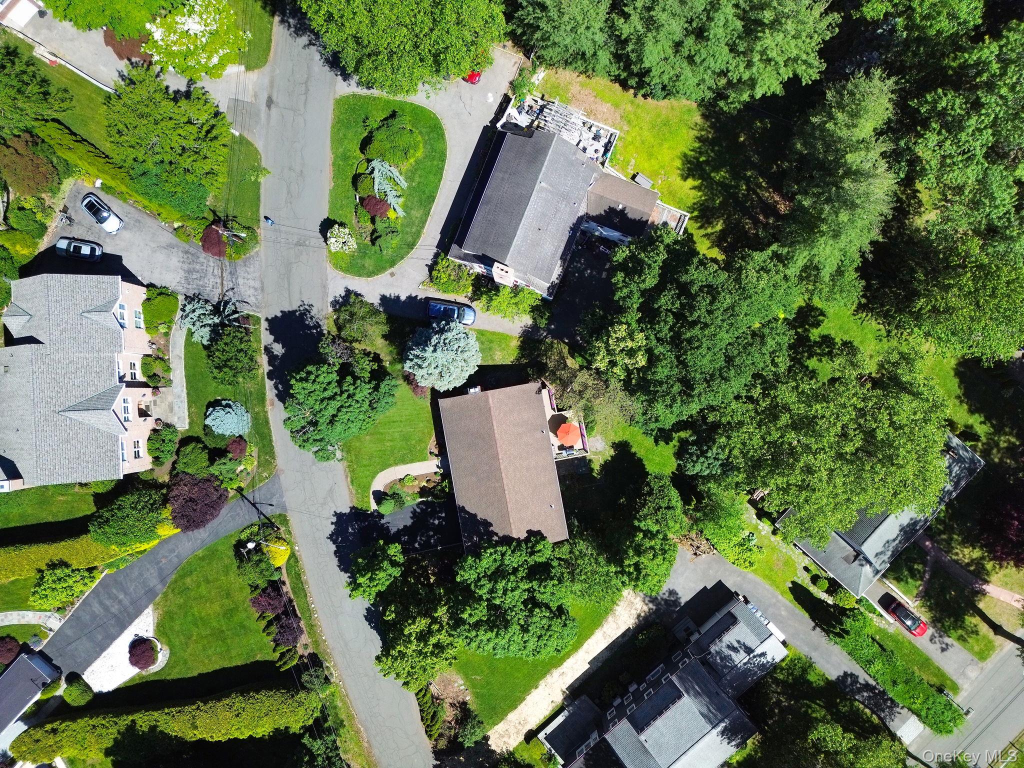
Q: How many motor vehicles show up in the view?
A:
5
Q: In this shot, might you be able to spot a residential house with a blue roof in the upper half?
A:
No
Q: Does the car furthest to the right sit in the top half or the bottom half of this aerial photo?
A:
bottom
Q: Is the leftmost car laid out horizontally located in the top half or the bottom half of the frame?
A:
top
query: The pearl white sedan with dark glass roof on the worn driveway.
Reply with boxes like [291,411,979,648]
[81,191,127,236]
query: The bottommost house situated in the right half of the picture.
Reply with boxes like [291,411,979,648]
[563,580,788,768]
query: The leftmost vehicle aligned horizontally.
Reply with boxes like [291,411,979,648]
[55,235,108,263]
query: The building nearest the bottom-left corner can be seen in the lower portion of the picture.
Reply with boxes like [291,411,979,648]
[0,649,63,736]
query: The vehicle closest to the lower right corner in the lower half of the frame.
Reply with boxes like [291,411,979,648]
[885,597,930,641]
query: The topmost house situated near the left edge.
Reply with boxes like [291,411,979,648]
[0,273,153,490]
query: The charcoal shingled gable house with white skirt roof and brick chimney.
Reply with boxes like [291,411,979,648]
[449,130,661,301]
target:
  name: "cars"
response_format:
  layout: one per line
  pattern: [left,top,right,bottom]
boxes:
[81,191,127,236]
[425,300,477,328]
[885,597,930,641]
[55,235,108,263]
[463,64,483,87]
